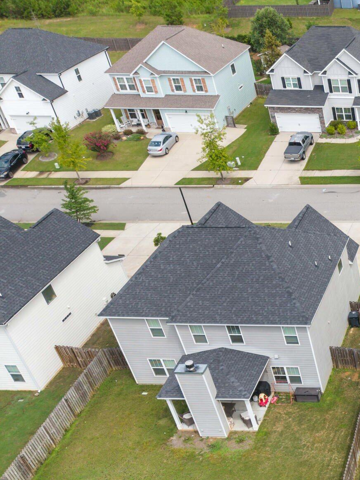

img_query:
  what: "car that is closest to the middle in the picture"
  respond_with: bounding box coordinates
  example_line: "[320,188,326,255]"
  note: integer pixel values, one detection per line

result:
[150,135,176,152]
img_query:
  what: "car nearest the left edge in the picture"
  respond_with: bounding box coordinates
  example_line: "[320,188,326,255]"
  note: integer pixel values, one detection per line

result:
[0,154,24,175]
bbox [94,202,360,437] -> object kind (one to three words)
house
